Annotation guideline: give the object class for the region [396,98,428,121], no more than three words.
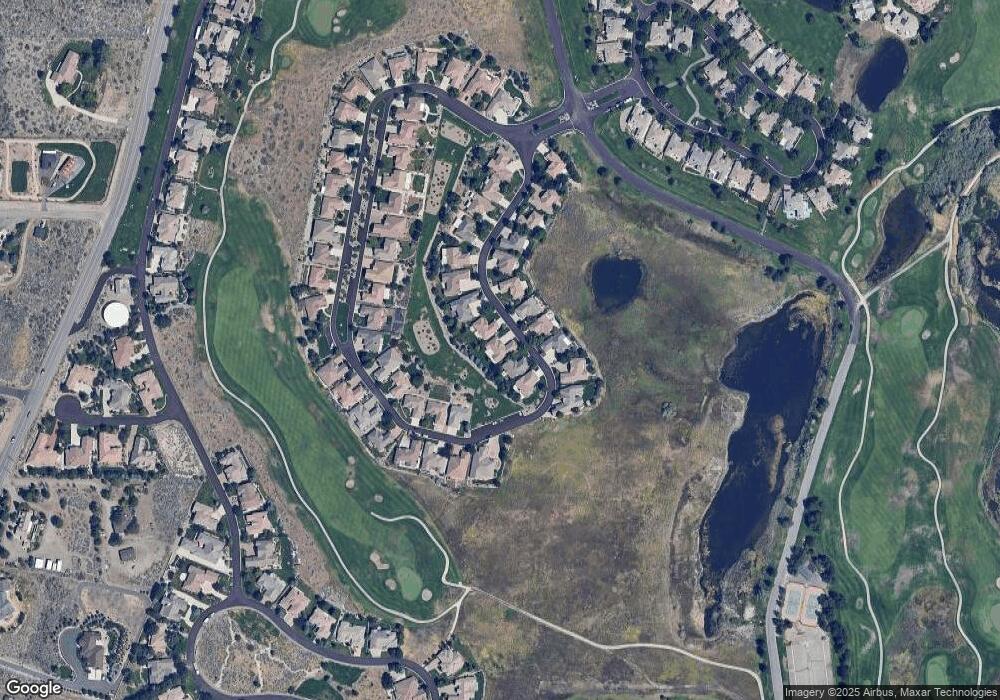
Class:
house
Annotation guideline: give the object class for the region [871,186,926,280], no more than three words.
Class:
pond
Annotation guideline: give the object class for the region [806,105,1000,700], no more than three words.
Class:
golf course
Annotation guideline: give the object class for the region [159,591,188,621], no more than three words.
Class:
house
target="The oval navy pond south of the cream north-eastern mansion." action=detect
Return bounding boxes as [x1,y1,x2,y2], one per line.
[857,37,910,110]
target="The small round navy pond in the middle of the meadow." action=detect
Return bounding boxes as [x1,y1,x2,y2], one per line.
[590,254,645,310]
